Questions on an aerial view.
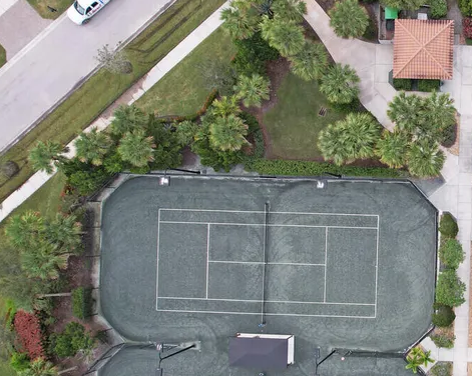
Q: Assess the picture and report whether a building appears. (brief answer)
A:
Yes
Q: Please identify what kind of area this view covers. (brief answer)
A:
sports ground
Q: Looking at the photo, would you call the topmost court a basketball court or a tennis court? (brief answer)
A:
tennis court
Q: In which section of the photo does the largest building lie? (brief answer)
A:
top right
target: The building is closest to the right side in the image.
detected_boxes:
[393,18,454,82]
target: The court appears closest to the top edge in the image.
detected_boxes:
[100,177,436,354]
